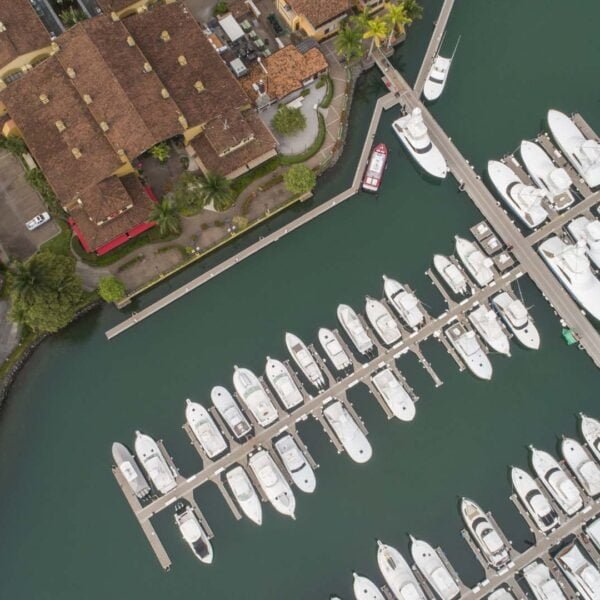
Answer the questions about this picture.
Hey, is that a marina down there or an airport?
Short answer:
marina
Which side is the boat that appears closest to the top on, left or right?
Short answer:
right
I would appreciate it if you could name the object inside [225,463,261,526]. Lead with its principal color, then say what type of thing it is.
white boat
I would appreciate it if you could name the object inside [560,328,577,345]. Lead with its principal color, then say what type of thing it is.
green boat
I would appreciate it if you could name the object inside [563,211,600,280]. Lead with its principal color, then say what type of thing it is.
white boat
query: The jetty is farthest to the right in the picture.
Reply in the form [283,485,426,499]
[507,112,600,254]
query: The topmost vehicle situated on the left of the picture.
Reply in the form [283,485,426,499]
[22,211,52,231]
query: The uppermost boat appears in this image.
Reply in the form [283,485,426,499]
[425,28,472,101]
